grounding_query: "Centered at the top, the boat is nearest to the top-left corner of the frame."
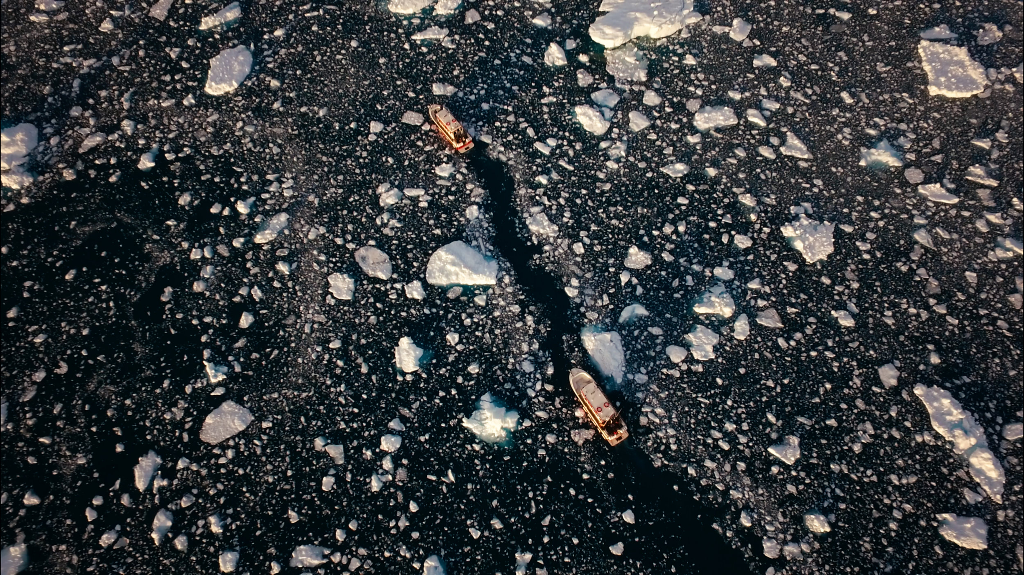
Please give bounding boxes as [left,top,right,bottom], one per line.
[427,102,473,154]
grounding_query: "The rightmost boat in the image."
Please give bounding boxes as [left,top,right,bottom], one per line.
[569,367,629,446]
